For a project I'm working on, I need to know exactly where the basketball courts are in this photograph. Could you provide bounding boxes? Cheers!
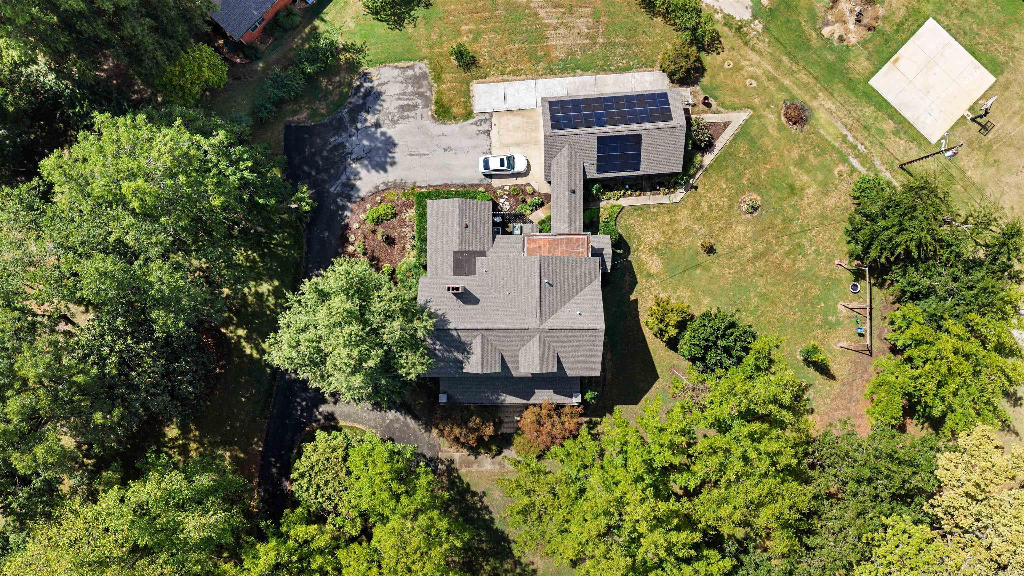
[869,17,996,144]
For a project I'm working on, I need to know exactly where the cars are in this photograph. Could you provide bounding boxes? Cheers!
[478,152,528,175]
